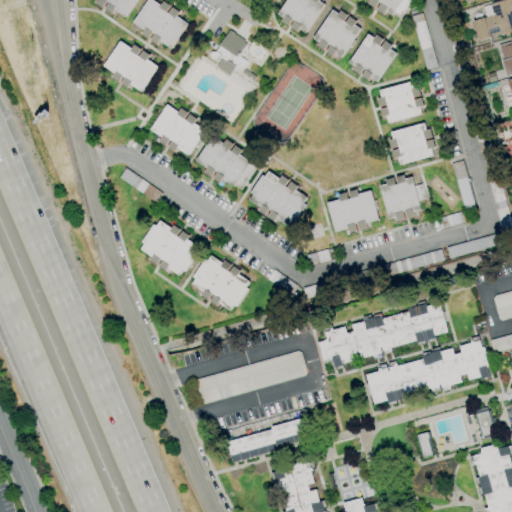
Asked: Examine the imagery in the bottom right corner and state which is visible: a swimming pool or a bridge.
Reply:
swimming pool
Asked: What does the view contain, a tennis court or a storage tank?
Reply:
tennis court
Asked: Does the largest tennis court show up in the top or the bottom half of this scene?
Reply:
top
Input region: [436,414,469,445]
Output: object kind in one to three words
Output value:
swimming pool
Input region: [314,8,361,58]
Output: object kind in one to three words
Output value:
building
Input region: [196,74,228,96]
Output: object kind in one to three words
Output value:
swimming pool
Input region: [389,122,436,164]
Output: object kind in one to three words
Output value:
building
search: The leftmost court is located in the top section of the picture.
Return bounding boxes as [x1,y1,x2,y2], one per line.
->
[252,64,326,142]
